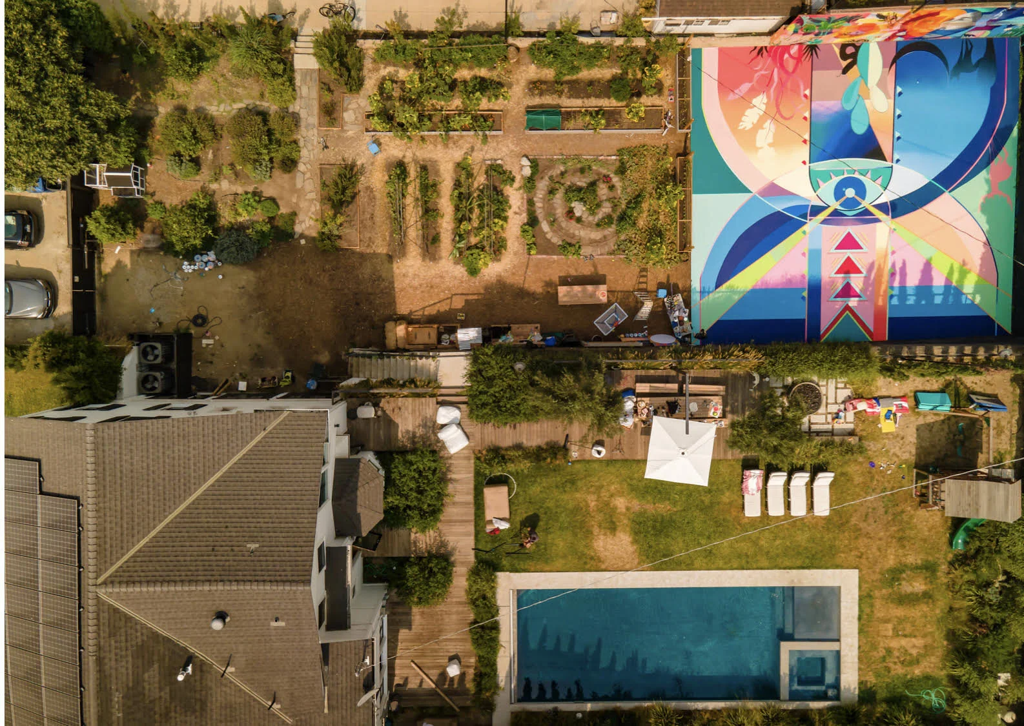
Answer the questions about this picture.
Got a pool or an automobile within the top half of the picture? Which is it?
automobile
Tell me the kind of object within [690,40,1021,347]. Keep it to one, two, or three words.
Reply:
sports court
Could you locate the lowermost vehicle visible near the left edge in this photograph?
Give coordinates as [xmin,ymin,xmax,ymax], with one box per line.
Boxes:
[0,274,61,322]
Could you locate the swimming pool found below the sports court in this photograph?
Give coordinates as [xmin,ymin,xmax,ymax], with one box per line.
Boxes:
[497,571,859,710]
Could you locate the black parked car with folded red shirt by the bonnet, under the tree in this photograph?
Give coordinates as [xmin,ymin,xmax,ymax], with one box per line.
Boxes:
[0,206,41,253]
